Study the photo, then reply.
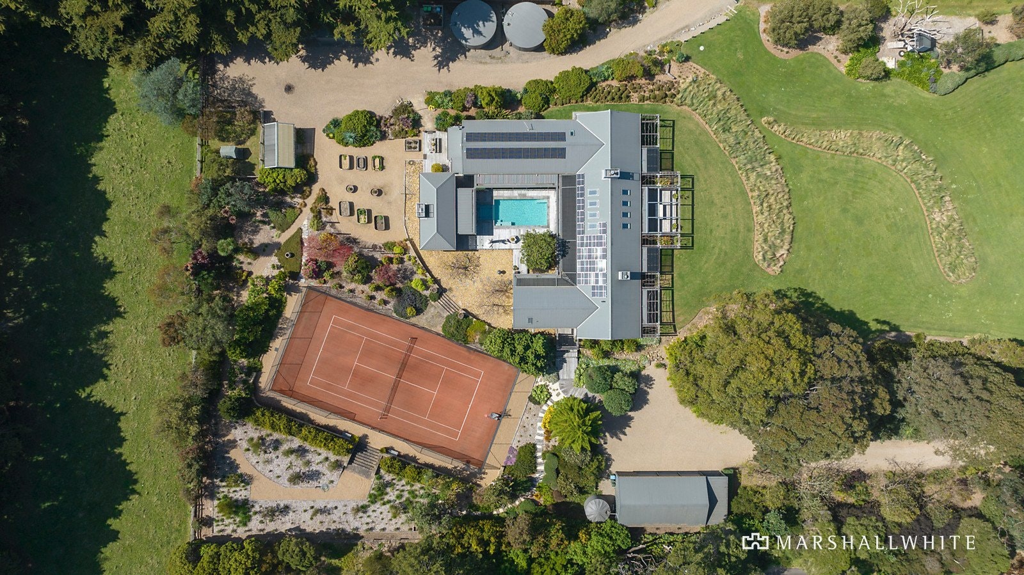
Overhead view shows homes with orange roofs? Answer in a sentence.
No, this view has no home with an orange roof in it.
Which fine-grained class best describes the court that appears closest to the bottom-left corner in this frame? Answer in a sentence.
The court that appears closest to the bottom-left corner in the image is a tennis court.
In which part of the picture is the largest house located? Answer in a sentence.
You can find the largest house in the center area of the picture.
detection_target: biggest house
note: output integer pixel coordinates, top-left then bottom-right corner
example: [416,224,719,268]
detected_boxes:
[448,107,642,350]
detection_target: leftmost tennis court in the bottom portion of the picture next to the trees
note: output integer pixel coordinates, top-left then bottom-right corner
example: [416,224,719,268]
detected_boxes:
[270,289,518,467]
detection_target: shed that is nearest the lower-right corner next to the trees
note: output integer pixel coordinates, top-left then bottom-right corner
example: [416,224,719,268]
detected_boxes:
[615,471,728,527]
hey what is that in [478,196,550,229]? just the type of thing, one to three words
swimming pool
